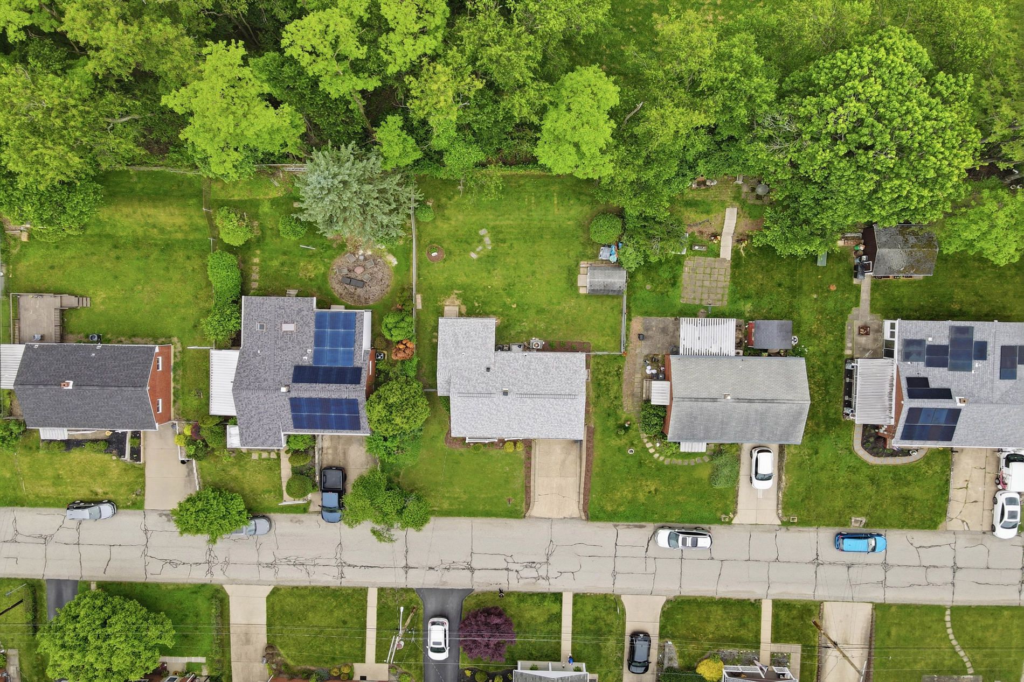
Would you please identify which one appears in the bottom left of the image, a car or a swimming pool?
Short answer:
car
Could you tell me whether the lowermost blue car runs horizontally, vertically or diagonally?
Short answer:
horizontally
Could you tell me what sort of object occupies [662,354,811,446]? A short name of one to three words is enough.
house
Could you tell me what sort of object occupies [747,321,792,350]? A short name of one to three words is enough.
shed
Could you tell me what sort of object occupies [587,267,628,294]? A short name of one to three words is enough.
shed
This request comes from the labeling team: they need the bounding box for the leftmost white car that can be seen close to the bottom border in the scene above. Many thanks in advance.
[425,616,450,661]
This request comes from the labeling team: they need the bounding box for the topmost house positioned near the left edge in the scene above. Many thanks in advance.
[12,343,176,434]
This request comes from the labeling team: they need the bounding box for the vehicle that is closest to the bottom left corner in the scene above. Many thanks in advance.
[62,499,118,524]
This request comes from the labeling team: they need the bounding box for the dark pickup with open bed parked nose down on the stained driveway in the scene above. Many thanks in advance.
[315,465,343,521]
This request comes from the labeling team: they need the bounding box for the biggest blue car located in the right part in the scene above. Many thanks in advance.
[834,531,886,557]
